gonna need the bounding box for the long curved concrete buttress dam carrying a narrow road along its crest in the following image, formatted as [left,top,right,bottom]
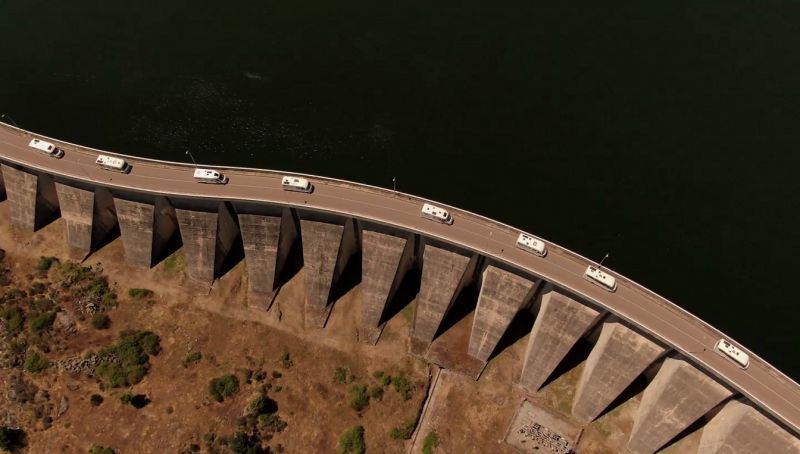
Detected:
[0,120,800,454]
